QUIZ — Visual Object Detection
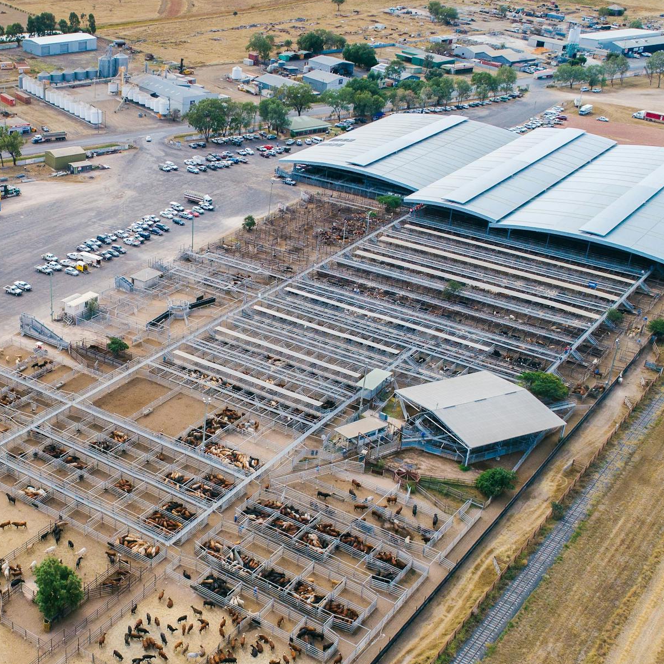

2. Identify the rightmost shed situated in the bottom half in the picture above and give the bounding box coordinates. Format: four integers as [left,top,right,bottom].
[378,370,566,470]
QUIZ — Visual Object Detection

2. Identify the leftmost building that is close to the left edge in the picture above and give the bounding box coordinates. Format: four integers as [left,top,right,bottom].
[0,113,31,133]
